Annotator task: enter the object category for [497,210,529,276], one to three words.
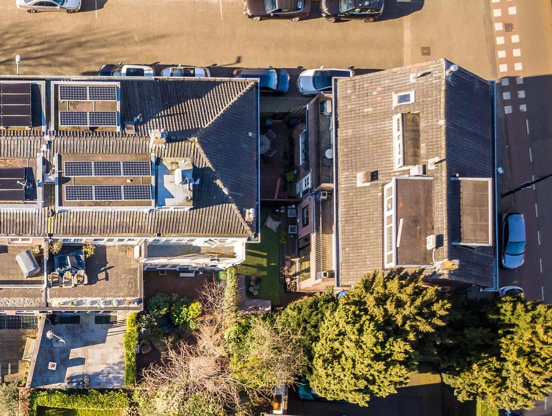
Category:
car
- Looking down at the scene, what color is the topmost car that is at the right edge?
blue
